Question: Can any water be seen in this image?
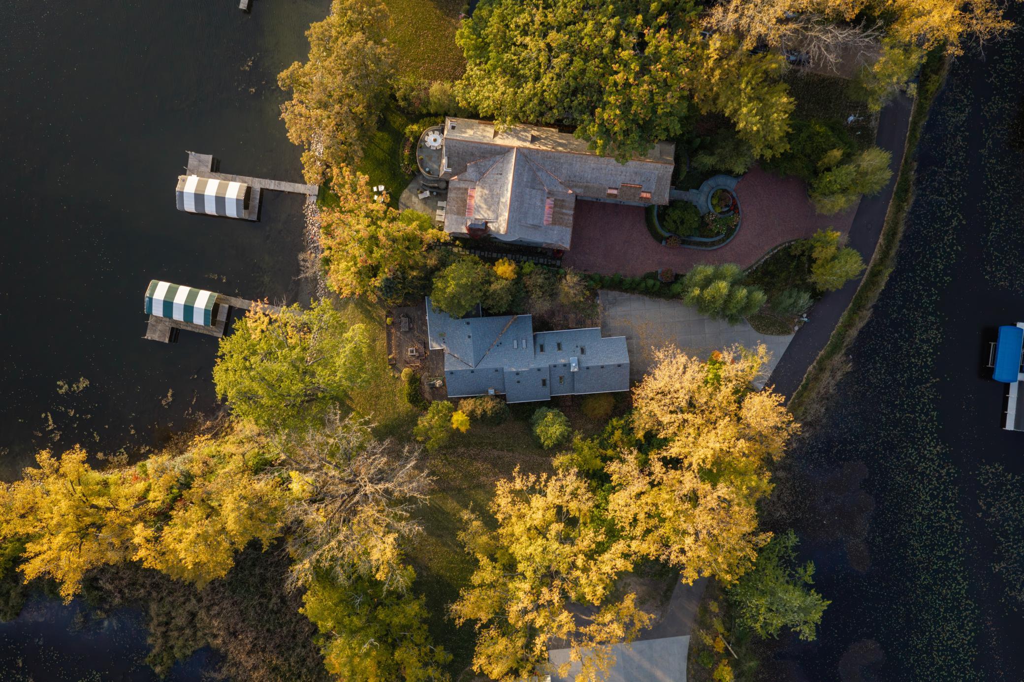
Yes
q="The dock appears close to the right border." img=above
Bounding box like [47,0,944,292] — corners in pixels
[1002,372,1024,430]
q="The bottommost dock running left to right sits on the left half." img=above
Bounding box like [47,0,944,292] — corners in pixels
[141,294,305,343]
